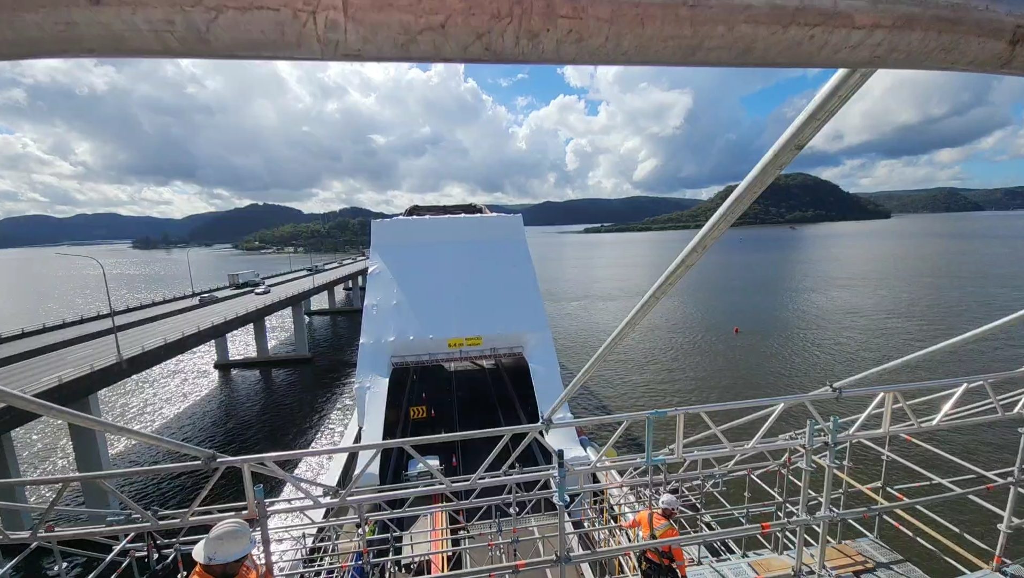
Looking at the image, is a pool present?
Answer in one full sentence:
No, the frame has no pool in it.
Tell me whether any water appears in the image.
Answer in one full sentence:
Yes, there is water in the image.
